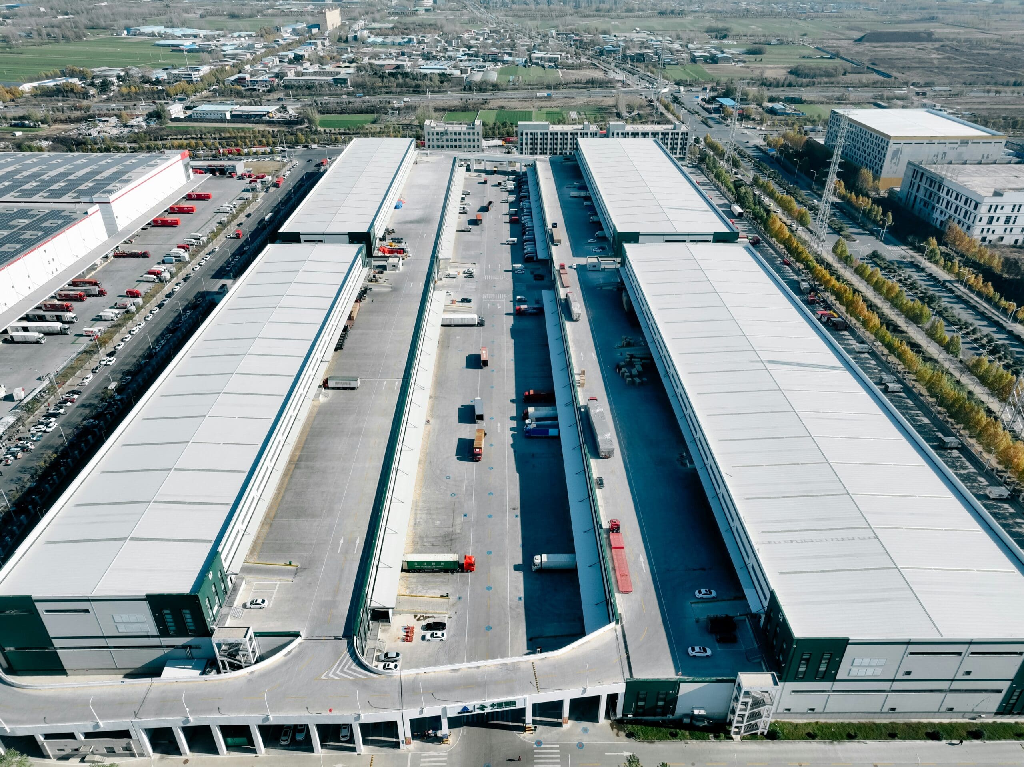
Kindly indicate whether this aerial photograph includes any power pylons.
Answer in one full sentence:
Yes, looking at the shot, I can spot a power pylon.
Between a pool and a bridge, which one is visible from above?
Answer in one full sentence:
The image shows a bridge.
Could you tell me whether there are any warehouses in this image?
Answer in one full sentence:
Yes, looking at the shot, I can spot a warehouse.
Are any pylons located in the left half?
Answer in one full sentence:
No, in the left half there is no pylon.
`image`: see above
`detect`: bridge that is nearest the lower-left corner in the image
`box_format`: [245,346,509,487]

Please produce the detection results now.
[0,619,630,767]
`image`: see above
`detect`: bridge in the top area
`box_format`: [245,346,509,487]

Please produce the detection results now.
[418,149,537,176]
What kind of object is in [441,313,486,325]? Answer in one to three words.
vehicle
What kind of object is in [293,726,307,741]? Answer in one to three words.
car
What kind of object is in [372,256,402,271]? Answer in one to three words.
shed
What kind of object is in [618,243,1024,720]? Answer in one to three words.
warehouse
